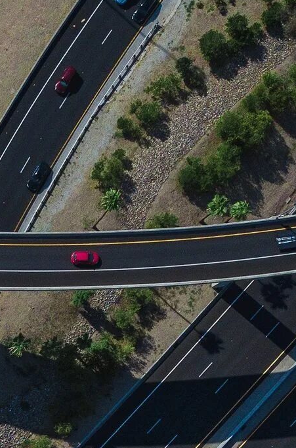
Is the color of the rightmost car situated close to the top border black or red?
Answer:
black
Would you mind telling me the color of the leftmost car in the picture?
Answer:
black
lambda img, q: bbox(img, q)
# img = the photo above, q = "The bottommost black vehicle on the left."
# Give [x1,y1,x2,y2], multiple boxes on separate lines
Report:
[28,160,51,193]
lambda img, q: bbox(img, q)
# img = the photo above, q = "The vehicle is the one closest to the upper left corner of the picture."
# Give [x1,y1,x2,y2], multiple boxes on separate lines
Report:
[54,64,76,95]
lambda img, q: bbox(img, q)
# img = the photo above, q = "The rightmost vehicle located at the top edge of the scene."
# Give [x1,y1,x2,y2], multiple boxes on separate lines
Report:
[131,0,156,23]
